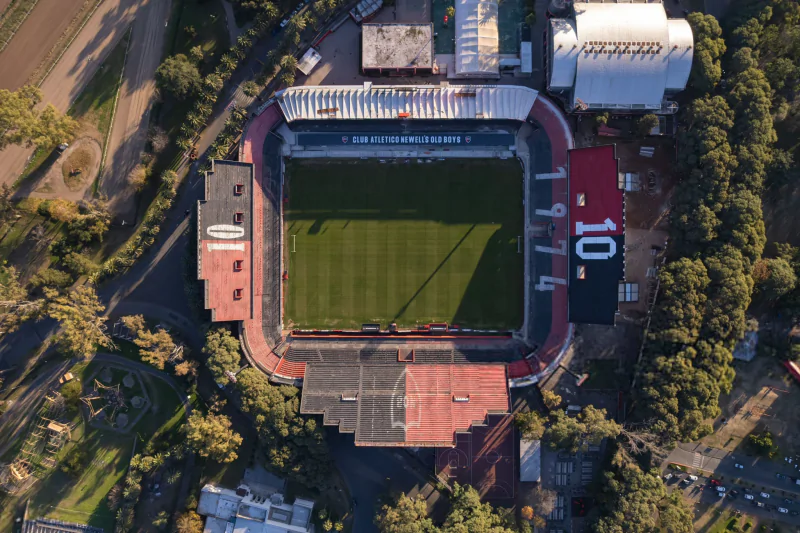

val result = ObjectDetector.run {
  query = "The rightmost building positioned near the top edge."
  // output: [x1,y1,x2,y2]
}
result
[542,0,695,118]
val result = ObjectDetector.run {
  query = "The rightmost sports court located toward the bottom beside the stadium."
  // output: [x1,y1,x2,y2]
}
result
[470,400,517,502]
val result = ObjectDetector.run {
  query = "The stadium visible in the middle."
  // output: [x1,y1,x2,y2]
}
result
[197,81,639,447]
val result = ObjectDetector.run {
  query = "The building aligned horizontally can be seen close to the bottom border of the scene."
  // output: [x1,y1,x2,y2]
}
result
[197,480,316,533]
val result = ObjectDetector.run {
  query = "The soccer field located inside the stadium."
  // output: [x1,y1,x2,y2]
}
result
[283,156,524,333]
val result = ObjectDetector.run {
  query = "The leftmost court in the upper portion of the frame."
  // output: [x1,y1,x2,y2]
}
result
[433,0,454,54]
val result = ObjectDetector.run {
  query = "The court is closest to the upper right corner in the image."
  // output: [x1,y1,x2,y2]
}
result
[498,0,521,54]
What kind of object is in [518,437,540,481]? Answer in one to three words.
shed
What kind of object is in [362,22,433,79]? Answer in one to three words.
building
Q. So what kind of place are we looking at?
sports ground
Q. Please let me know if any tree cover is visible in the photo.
Yes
